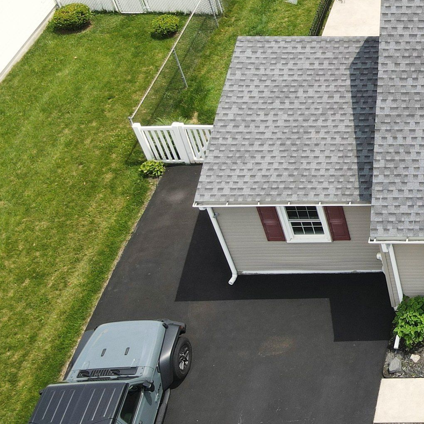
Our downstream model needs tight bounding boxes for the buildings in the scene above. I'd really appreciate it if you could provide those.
[190,0,424,313]
[0,0,60,81]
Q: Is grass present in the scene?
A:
Yes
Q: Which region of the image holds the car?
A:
bottom left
